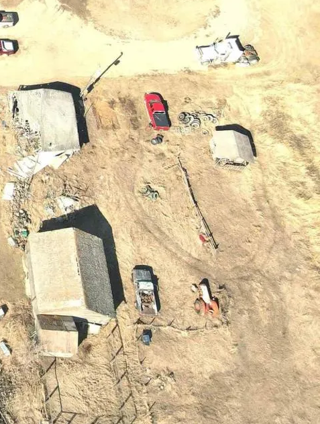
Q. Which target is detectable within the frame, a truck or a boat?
truck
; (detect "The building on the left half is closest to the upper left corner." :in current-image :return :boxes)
[3,88,80,193]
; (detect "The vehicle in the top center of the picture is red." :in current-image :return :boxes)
[143,92,173,131]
